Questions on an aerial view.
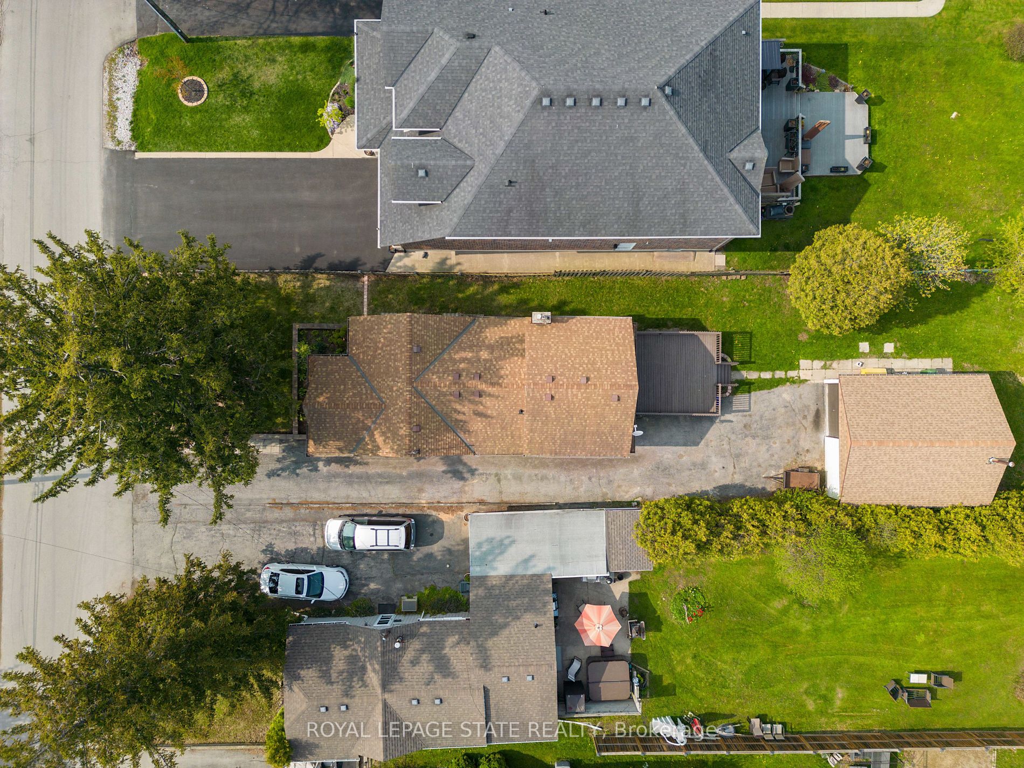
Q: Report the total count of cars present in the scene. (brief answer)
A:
two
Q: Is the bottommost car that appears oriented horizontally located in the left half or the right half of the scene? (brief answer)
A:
left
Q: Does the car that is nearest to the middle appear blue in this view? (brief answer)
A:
No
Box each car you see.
[260,560,350,605]
[327,511,419,557]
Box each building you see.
[300,312,644,459]
[283,574,558,768]
[598,506,653,572]
[353,0,770,256]
[820,374,1019,505]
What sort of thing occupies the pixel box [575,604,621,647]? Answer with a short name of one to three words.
umbrella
